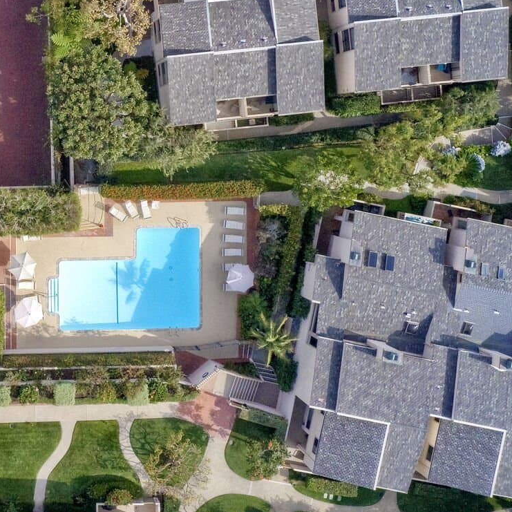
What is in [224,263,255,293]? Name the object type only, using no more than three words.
umbrella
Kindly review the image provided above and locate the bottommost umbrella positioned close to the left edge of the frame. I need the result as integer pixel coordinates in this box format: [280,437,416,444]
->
[13,296,44,327]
